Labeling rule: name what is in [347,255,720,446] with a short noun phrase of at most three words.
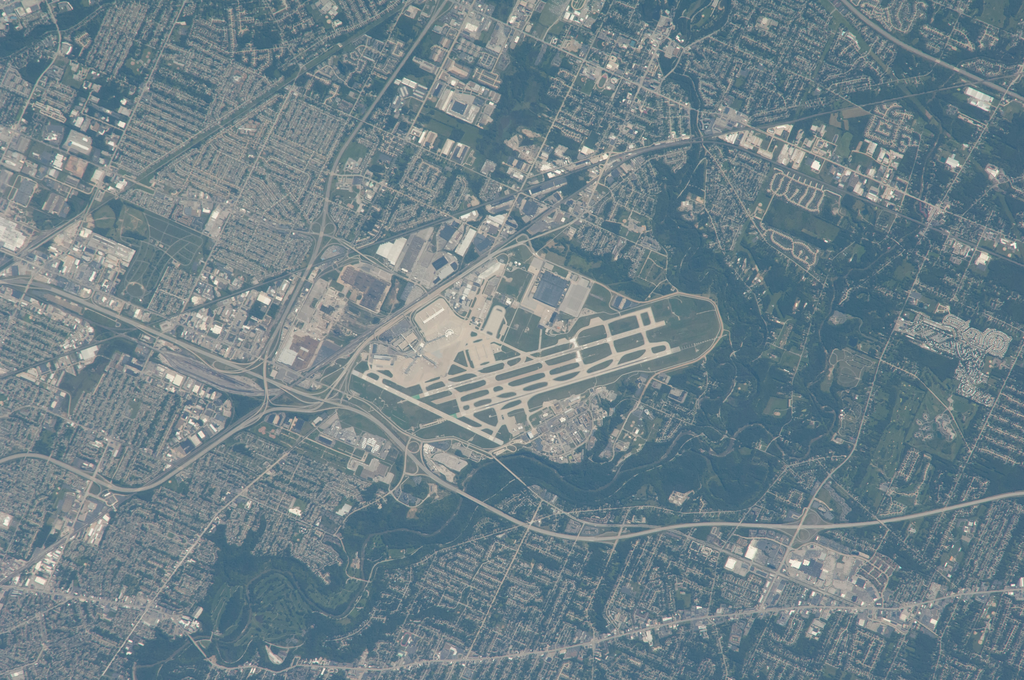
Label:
airport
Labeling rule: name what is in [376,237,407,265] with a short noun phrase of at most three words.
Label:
building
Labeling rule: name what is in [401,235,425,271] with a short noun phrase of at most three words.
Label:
building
